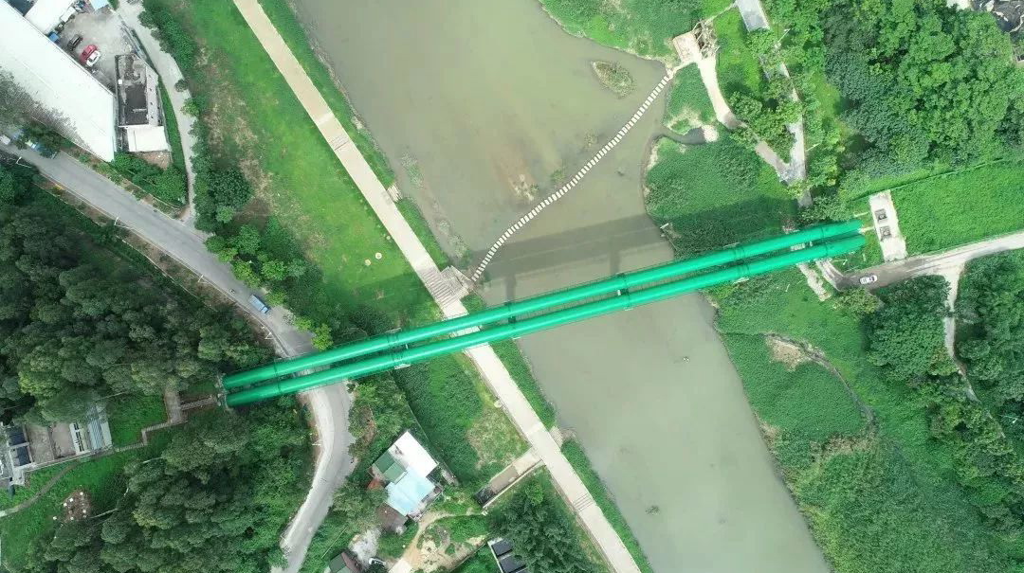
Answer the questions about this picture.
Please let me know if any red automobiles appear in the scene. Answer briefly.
Yes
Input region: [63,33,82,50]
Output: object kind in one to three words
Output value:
vehicle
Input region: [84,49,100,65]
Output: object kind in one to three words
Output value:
car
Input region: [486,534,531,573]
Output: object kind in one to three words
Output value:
house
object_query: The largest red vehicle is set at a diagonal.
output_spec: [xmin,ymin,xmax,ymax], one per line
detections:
[76,44,95,62]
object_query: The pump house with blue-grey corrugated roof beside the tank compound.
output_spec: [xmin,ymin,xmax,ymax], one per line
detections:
[87,404,116,450]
